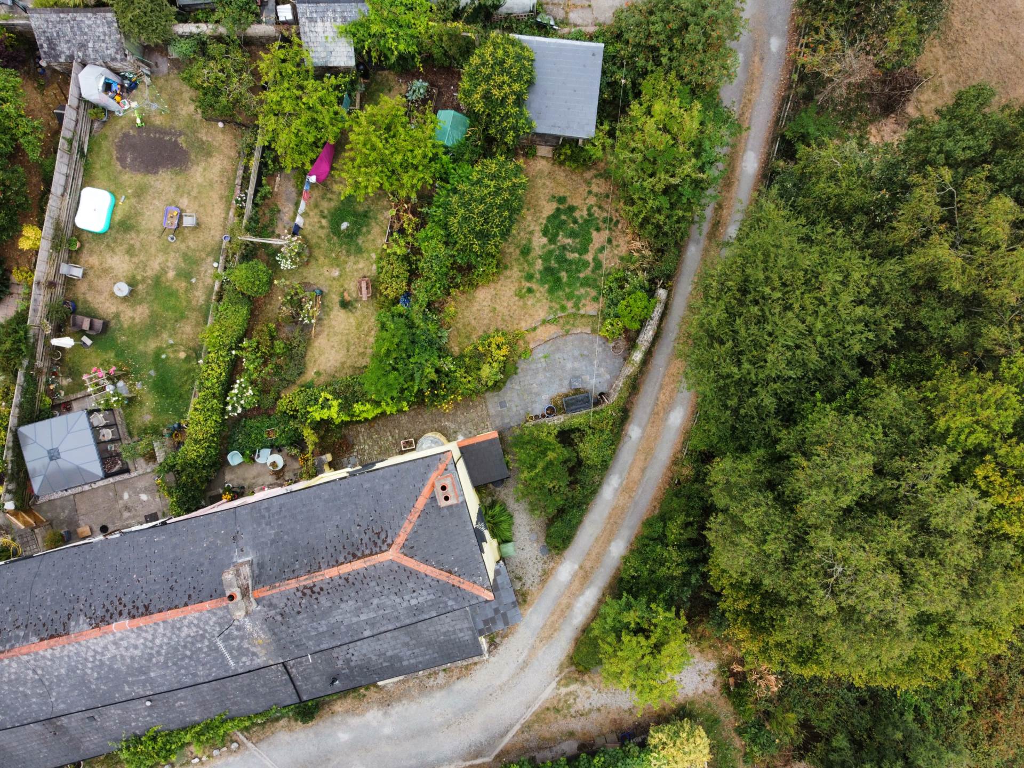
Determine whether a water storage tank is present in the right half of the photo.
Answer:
No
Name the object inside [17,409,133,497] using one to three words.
gazebo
